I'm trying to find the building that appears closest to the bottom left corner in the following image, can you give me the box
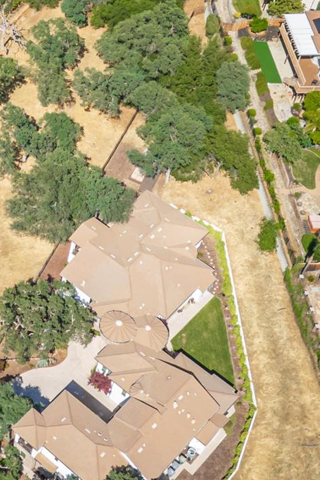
[12,189,240,480]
